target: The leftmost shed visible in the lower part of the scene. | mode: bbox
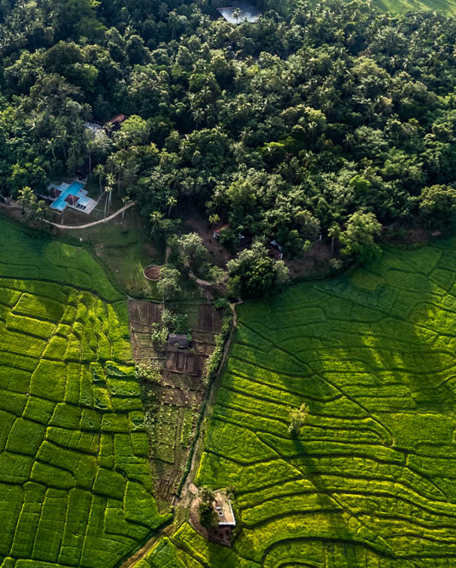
[168,334,190,350]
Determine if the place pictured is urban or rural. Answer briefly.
rural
